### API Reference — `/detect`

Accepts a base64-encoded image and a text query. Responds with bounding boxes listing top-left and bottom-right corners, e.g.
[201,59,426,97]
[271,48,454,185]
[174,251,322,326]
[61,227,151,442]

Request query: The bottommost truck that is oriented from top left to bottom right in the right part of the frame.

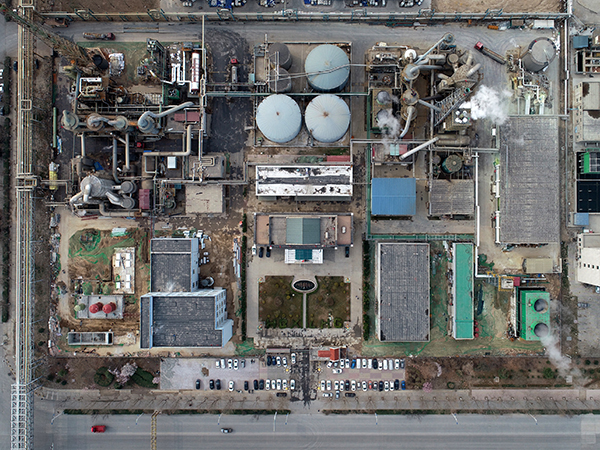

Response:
[473,41,508,65]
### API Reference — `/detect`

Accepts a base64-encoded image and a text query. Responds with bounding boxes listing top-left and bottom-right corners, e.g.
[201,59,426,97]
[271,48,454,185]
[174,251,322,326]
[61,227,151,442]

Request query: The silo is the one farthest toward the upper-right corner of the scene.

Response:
[517,34,563,75]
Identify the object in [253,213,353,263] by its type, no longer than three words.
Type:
building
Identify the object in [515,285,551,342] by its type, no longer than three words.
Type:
cooling tower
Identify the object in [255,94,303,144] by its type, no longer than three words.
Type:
storage tank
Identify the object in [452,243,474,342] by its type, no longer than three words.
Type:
shed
